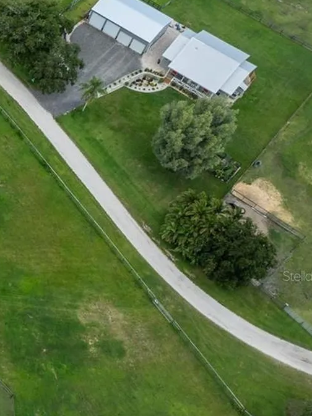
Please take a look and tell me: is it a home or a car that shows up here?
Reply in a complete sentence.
Visible in the photo is a home.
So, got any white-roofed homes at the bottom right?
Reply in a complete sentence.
No, I can find no white-roofed home at the bottom right.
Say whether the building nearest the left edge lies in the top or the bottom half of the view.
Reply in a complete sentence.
It is in the top half that the building nearest the left edge appears.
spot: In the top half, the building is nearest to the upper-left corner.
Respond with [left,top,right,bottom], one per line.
[87,0,172,54]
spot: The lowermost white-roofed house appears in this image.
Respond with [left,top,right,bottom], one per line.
[157,28,256,104]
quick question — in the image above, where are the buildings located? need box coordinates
[87,0,172,54]
[157,28,256,104]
